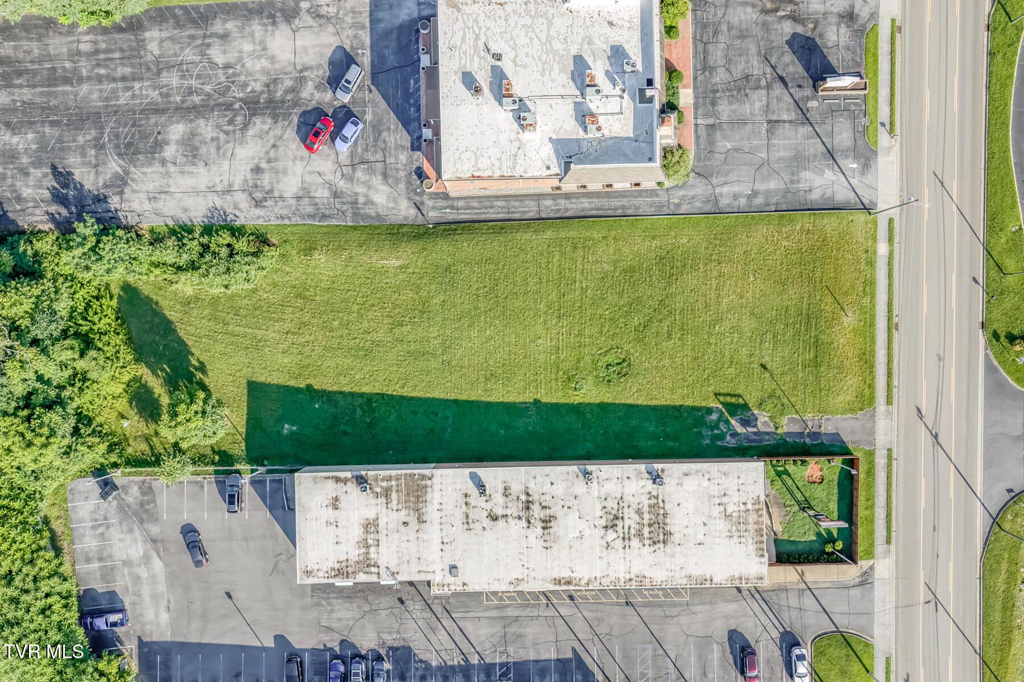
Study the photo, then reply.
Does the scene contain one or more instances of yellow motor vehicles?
No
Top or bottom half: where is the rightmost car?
bottom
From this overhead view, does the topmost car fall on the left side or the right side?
left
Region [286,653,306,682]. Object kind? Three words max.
vehicle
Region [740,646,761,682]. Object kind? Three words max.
car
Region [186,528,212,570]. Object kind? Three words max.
car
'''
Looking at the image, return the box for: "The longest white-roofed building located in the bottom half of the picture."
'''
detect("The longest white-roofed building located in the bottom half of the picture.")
[296,457,769,595]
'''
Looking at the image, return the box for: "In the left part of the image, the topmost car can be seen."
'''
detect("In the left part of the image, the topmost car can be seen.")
[336,63,366,104]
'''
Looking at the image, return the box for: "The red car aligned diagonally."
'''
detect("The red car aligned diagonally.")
[305,116,336,155]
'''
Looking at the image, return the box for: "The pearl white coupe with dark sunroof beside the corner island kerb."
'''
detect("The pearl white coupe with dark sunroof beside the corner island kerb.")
[788,645,808,682]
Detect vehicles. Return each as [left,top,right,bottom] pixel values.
[336,115,364,154]
[348,655,367,682]
[788,645,808,682]
[85,608,132,631]
[740,646,761,682]
[369,657,388,682]
[225,474,244,513]
[328,657,346,682]
[186,528,212,570]
[336,63,366,104]
[286,653,306,682]
[305,116,336,155]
